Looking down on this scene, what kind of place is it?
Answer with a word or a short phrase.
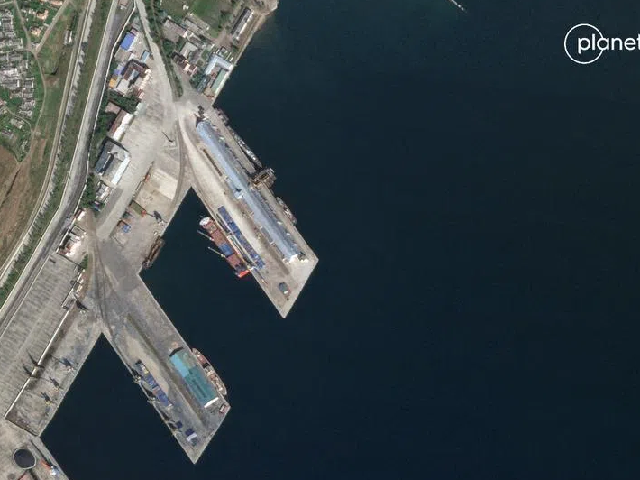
port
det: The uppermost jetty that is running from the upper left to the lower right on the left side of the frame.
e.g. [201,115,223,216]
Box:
[190,105,319,317]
